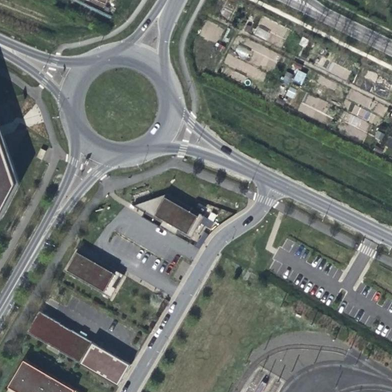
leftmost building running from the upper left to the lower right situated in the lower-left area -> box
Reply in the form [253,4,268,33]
[26,312,88,364]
